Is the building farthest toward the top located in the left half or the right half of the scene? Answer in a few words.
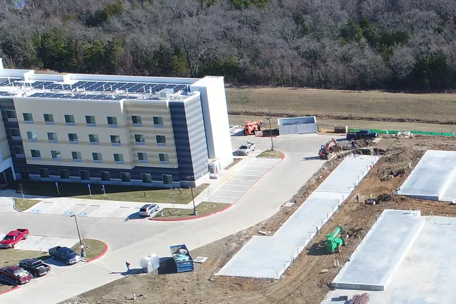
left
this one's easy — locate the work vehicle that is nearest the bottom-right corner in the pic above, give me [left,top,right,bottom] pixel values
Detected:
[324,219,351,249]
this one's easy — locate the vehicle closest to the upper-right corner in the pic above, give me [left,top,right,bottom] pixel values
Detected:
[347,126,379,138]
